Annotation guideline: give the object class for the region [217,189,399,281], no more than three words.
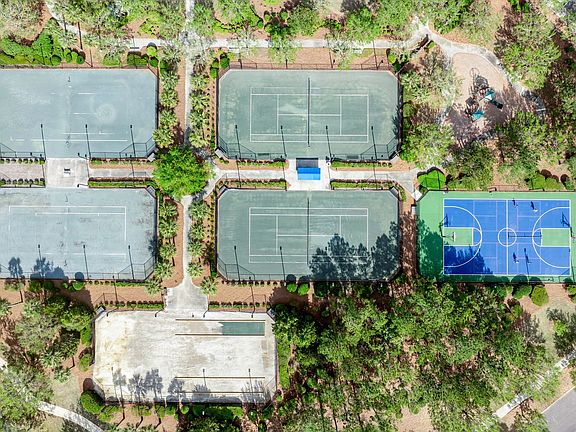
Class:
tennis court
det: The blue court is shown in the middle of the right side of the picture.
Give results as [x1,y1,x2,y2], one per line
[420,192,576,281]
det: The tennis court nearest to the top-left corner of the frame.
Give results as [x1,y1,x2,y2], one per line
[0,69,158,159]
